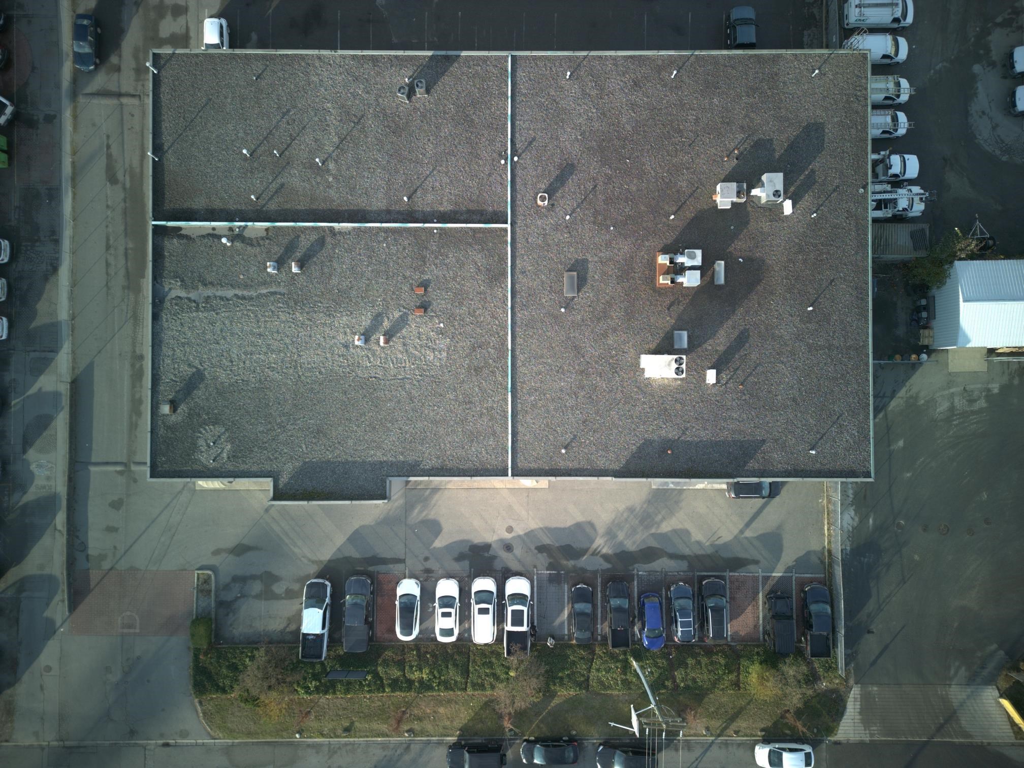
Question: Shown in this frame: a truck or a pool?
truck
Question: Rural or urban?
urban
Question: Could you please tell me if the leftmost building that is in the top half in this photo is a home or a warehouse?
warehouse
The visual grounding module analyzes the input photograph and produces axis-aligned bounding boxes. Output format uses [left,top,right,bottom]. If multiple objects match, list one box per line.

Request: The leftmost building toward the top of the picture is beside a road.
[148,49,874,504]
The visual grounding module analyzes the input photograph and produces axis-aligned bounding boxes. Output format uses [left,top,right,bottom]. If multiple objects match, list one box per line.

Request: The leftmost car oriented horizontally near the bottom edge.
[445,739,505,768]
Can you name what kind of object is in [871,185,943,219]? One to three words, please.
truck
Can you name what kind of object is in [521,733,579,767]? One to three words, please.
car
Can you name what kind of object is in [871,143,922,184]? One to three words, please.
truck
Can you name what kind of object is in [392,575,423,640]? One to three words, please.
car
